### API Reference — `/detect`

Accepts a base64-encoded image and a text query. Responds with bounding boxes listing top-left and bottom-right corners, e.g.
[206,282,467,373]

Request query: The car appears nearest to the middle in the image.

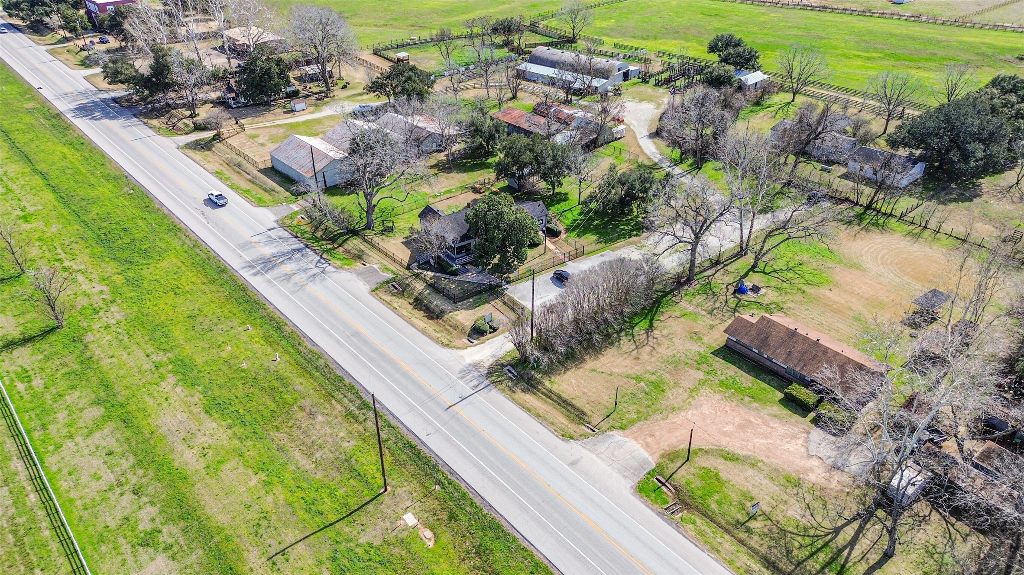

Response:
[552,268,572,285]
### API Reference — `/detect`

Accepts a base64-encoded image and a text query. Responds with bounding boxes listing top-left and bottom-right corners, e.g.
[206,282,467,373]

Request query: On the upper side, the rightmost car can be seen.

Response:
[808,189,826,204]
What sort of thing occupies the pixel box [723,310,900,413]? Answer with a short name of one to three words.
house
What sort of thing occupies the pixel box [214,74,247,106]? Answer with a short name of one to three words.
house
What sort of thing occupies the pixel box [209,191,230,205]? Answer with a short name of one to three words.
vehicle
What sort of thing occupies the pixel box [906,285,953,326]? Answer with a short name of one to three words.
building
